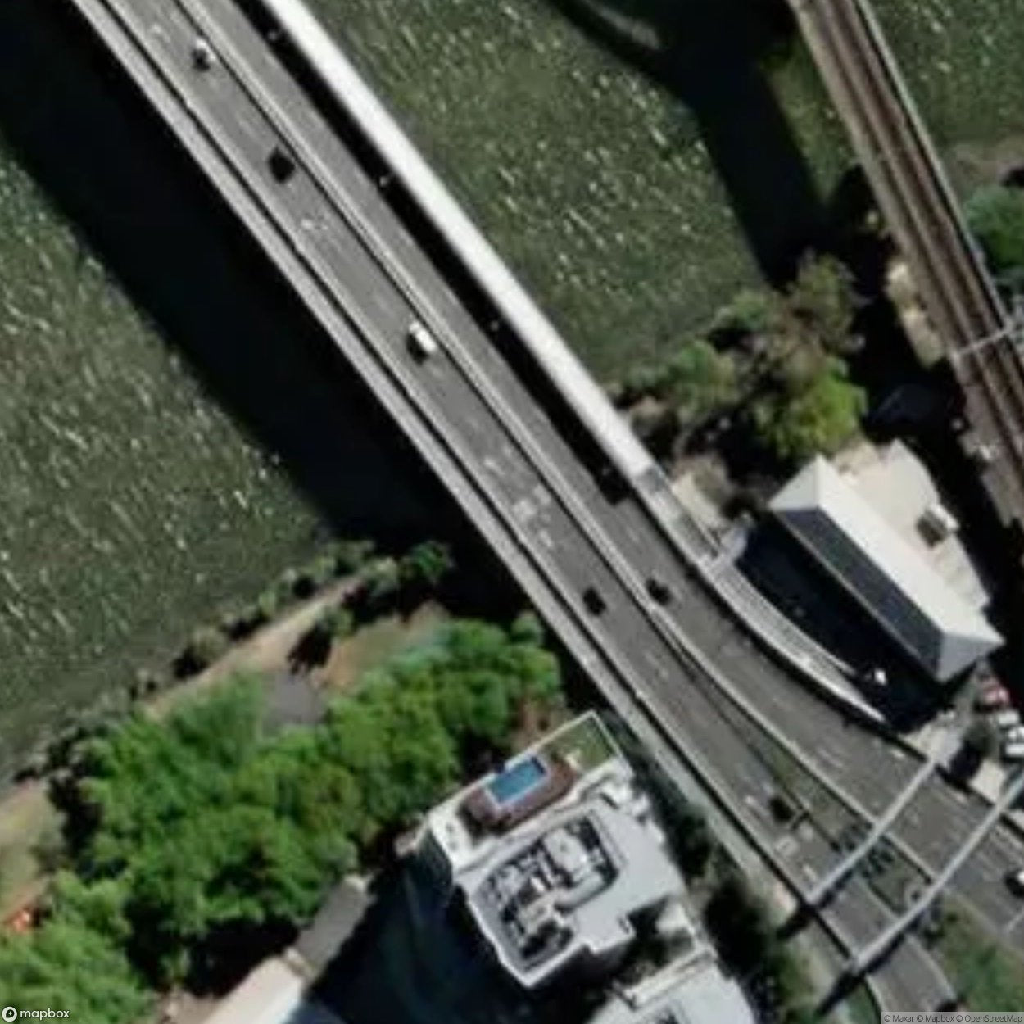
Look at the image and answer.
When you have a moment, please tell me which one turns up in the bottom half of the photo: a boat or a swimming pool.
swimming pool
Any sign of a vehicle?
Yes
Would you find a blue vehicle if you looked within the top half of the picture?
No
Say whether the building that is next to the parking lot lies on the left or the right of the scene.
right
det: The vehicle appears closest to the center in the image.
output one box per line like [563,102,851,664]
[577,581,612,620]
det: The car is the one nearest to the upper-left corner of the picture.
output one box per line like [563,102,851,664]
[187,35,220,71]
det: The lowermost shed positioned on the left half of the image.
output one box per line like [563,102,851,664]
[201,945,320,1024]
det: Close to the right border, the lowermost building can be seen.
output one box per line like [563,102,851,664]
[767,441,1005,686]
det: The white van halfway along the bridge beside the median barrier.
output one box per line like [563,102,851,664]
[406,319,442,359]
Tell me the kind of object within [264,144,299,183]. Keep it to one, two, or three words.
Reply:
car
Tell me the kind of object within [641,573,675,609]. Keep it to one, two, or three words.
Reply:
car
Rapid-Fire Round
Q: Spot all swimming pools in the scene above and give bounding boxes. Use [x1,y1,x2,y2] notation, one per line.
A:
[484,756,549,808]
